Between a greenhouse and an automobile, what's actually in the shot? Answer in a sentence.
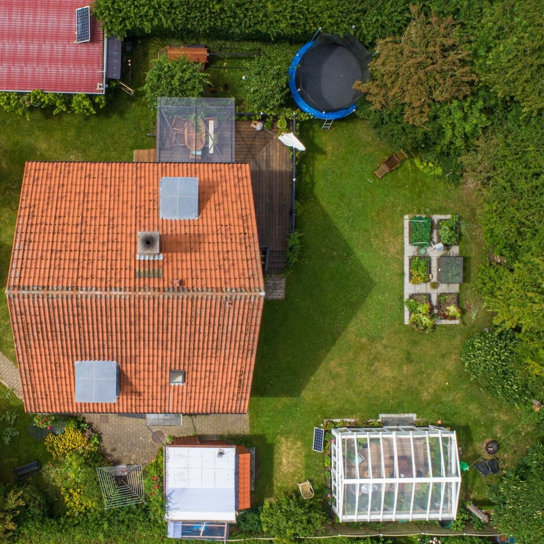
I can see a greenhouse in this picture.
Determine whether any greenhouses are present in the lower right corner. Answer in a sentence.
Yes, a greenhouse is visible in the lower right corner.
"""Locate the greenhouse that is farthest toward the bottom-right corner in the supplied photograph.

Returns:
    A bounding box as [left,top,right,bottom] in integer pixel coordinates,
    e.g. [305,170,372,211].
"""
[331,426,464,523]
